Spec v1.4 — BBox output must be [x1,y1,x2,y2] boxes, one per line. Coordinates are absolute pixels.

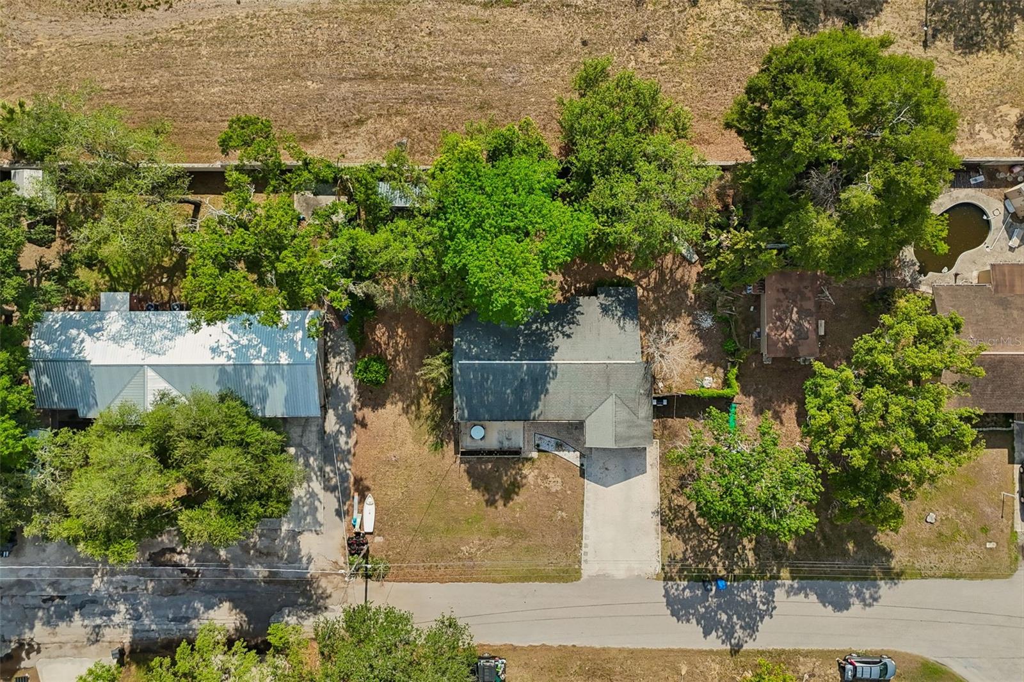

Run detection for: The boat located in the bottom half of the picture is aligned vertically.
[362,496,374,535]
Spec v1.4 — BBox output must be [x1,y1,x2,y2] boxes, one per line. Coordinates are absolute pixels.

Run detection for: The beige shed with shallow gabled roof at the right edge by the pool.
[991,180,1024,218]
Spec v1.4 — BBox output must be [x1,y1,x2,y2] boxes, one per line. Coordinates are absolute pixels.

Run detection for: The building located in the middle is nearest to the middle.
[451,287,653,449]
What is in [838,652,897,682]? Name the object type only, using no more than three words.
car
